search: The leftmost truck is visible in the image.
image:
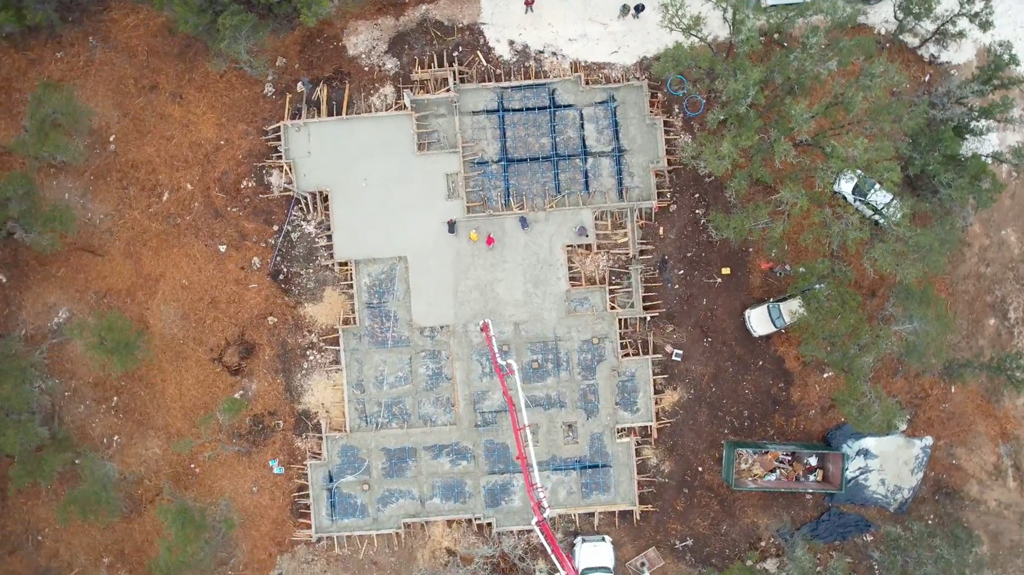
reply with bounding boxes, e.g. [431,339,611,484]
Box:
[477,318,622,575]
